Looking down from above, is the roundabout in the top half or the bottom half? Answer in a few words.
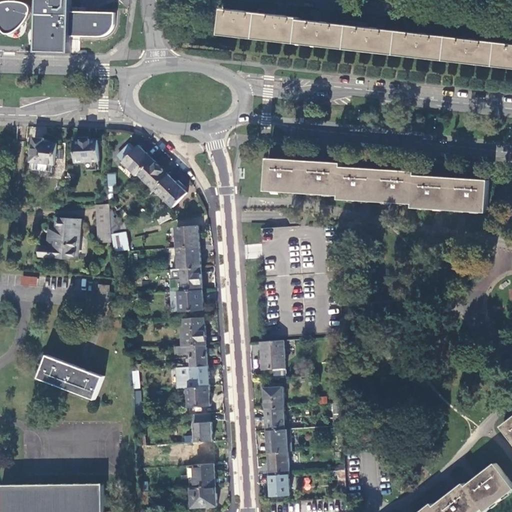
top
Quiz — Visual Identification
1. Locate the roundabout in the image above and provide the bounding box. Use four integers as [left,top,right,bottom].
[133,71,237,124]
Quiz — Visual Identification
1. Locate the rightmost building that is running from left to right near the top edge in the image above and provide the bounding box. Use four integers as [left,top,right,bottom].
[214,9,512,70]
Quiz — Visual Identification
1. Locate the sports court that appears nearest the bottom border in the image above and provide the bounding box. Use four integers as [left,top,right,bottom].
[21,422,121,490]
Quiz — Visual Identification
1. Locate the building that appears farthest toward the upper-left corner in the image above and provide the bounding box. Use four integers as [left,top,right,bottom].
[0,0,31,34]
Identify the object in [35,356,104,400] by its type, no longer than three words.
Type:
building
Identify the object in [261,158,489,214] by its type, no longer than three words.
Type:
building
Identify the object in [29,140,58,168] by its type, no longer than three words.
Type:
house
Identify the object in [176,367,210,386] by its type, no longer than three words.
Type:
house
